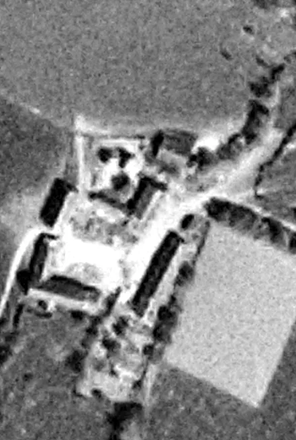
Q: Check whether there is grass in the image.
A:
Yes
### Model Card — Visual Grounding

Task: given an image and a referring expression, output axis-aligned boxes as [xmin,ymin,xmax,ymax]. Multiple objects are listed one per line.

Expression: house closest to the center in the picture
[132,183,165,224]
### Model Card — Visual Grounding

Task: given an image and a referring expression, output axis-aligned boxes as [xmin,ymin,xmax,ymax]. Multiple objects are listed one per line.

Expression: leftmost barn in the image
[35,236,57,281]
